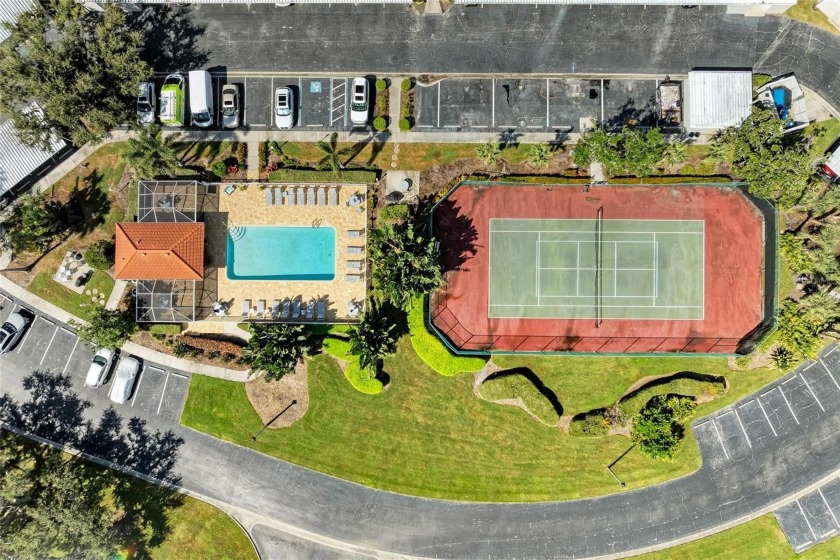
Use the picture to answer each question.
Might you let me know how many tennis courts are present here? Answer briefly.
1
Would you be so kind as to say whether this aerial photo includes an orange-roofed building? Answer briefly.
Yes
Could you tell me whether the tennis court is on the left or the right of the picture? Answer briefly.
right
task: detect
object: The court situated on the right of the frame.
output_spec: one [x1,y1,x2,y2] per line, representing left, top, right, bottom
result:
[433,184,765,352]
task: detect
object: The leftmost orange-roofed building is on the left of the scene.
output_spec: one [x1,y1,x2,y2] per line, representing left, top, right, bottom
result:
[113,221,208,280]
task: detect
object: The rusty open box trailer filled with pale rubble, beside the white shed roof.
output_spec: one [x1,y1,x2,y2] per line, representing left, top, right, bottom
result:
[659,75,682,125]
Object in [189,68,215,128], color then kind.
white vehicle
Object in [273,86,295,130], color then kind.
white car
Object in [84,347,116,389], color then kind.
white car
